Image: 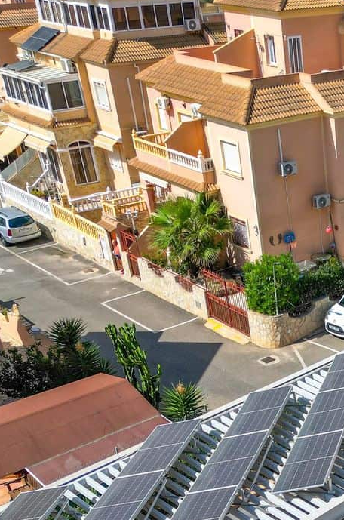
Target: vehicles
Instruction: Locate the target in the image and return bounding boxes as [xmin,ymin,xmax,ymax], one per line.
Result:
[317,291,344,338]
[0,202,52,245]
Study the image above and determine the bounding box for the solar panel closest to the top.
[22,26,65,47]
